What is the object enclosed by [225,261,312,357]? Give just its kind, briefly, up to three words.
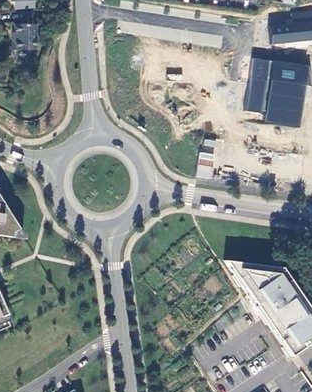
building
